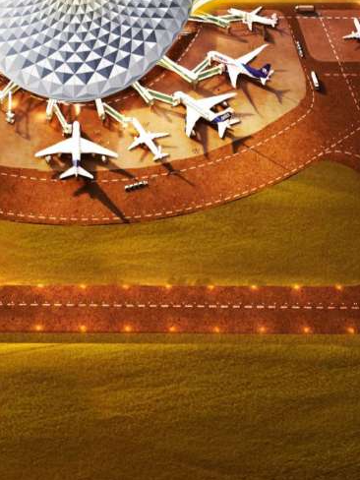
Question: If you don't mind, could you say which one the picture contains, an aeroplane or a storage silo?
aeroplane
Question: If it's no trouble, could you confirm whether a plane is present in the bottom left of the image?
No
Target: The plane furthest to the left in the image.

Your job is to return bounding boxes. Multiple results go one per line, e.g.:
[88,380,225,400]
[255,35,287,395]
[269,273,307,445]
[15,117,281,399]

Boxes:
[37,120,117,175]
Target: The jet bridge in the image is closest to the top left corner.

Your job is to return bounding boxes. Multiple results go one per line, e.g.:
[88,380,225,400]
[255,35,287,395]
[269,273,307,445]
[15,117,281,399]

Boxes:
[0,82,17,120]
